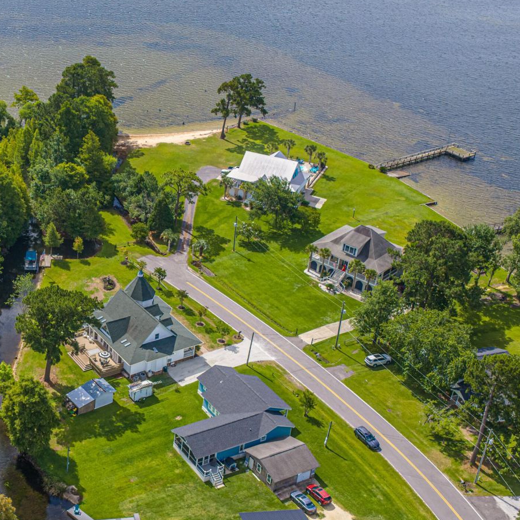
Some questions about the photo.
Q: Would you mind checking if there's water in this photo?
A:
Yes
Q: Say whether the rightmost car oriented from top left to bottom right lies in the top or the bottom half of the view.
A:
bottom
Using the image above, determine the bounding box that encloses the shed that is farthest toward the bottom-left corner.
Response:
[66,378,116,414]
